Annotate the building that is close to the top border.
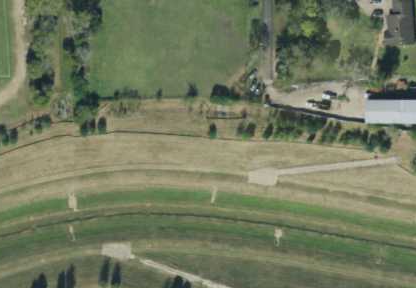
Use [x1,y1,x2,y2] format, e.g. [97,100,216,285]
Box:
[384,0,416,46]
